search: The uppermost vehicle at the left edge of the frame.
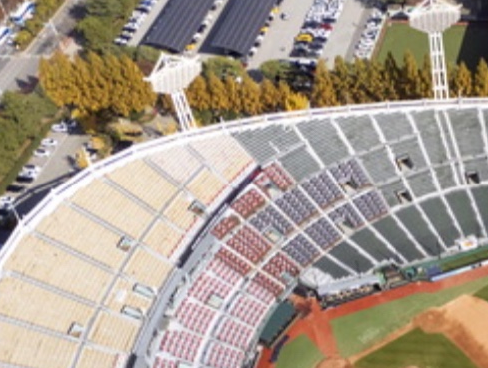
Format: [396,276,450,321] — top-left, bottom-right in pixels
[8,0,38,24]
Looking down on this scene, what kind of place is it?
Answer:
sports ground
